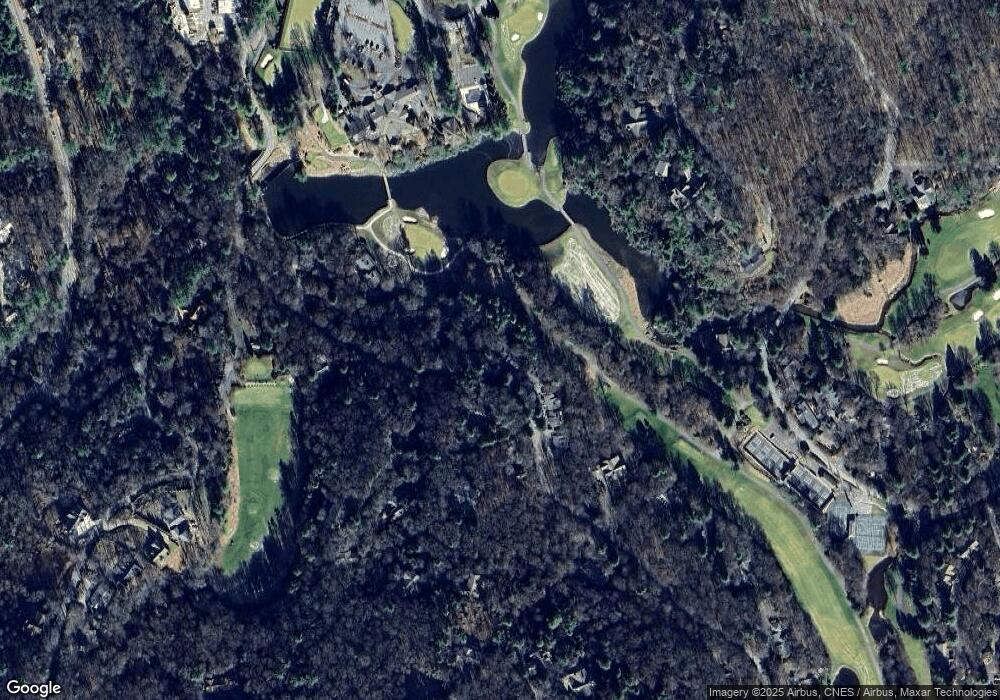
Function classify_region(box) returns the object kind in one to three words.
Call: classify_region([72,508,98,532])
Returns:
house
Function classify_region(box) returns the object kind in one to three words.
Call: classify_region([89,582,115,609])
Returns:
house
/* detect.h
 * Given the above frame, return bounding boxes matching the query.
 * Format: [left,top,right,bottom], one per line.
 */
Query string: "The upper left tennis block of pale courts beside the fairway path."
[744,432,796,477]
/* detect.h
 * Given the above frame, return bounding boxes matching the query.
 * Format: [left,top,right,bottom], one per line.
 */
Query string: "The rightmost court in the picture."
[856,515,888,554]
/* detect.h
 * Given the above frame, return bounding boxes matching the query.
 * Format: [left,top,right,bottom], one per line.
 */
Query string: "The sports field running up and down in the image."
[220,380,296,578]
